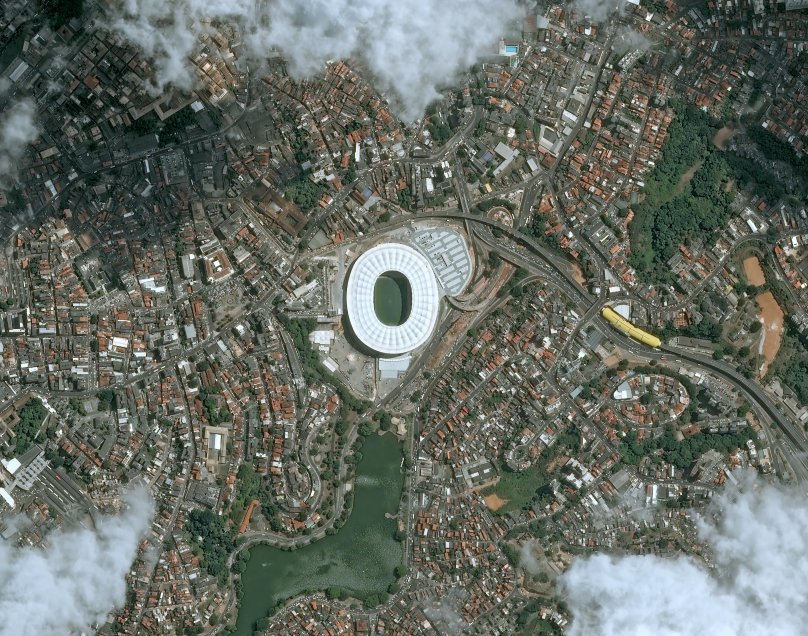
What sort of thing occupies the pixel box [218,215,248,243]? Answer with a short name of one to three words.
building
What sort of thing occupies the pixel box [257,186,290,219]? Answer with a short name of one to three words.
building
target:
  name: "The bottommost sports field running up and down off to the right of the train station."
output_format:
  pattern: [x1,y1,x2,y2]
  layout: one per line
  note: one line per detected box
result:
[758,291,785,378]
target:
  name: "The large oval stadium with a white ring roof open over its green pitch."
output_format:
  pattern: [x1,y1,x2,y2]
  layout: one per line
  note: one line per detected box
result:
[343,243,440,356]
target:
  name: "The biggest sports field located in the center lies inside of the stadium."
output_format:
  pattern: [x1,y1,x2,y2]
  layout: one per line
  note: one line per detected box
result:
[373,271,412,327]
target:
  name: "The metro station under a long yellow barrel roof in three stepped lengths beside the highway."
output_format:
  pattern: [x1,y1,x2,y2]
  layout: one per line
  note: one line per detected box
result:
[600,307,661,349]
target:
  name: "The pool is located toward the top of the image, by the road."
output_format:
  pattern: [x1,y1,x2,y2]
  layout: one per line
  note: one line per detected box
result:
[499,39,519,55]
